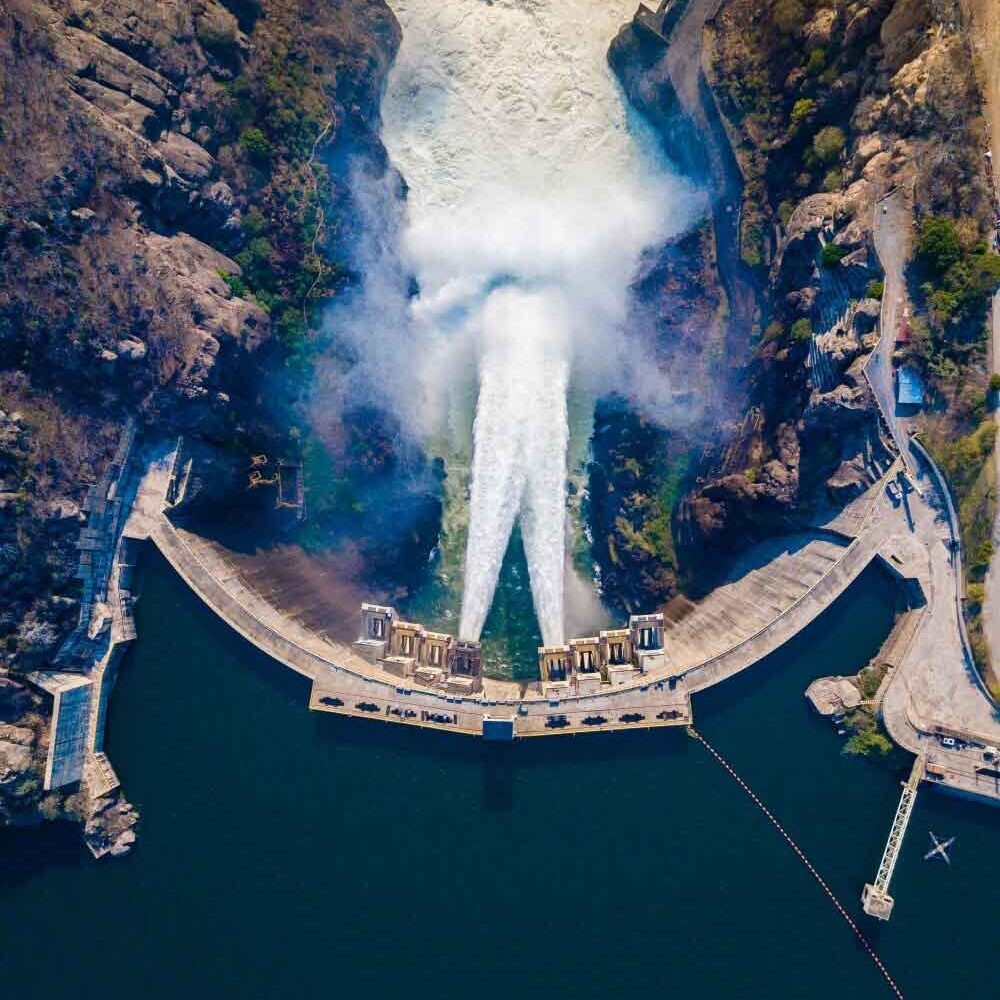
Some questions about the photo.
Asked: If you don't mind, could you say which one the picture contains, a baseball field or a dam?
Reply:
dam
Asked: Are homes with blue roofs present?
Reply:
Yes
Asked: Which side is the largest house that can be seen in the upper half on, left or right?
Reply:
right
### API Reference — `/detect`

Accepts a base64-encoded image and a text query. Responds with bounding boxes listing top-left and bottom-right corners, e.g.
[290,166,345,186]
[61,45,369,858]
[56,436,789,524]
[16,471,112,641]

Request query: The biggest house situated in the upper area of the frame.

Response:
[893,365,924,404]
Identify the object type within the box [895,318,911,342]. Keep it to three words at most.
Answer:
shed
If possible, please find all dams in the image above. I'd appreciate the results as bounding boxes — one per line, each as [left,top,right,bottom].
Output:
[150,500,878,739]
